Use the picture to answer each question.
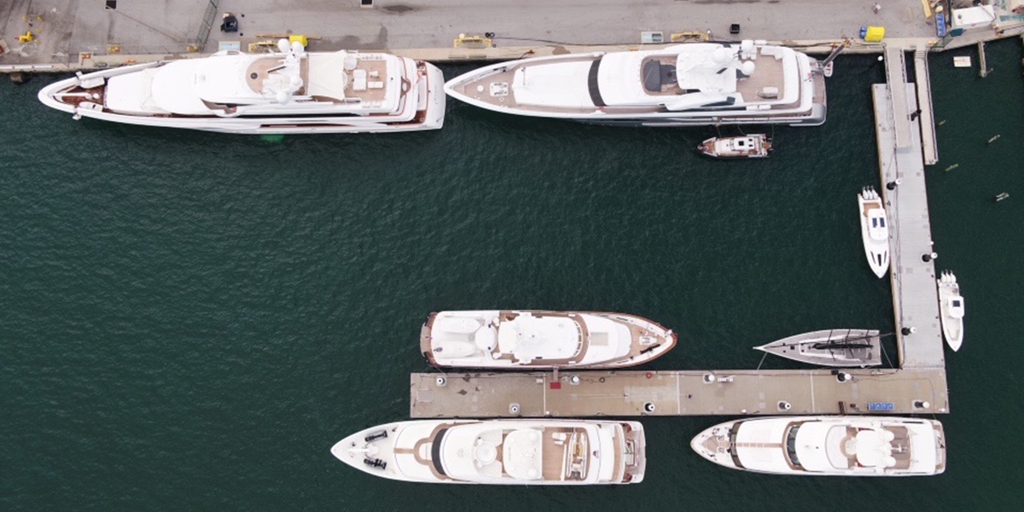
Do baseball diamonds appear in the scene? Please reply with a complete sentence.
No, this view has no baseball diamond in it.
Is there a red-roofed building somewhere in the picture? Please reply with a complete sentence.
No, there's no red-roofed building here.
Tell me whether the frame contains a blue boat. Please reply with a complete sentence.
No, no blue boat is visible in the view.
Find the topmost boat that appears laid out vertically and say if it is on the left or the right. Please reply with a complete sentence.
The topmost boat that appears laid out vertically is on the right side of the image.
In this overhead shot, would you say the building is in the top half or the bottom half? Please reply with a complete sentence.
You can find the building in the top half.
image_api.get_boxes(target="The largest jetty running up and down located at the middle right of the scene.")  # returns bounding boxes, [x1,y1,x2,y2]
[870,84,947,369]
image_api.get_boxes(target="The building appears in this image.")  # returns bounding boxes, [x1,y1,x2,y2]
[945,2,995,34]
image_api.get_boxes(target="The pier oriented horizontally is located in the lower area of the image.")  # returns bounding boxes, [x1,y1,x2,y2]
[410,368,948,419]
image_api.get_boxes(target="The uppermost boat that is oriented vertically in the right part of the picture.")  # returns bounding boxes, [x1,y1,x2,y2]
[855,188,888,279]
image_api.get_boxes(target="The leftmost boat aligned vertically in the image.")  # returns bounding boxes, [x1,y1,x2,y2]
[566,430,588,478]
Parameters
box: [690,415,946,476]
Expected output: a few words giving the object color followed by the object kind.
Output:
white boat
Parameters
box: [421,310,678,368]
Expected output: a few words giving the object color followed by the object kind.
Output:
white boat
